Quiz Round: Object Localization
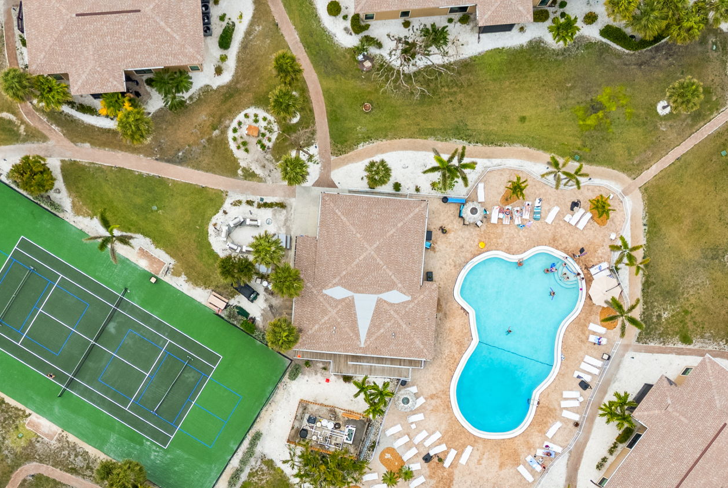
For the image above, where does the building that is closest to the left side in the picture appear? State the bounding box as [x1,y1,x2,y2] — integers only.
[22,0,205,105]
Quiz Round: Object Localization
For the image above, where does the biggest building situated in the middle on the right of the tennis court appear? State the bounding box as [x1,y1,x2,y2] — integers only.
[289,193,439,361]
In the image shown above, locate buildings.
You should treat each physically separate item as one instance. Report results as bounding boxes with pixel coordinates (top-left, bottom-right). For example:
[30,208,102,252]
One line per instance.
[352,0,554,40]
[588,351,728,488]
[22,0,205,105]
[289,193,439,361]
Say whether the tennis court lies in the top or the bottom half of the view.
bottom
